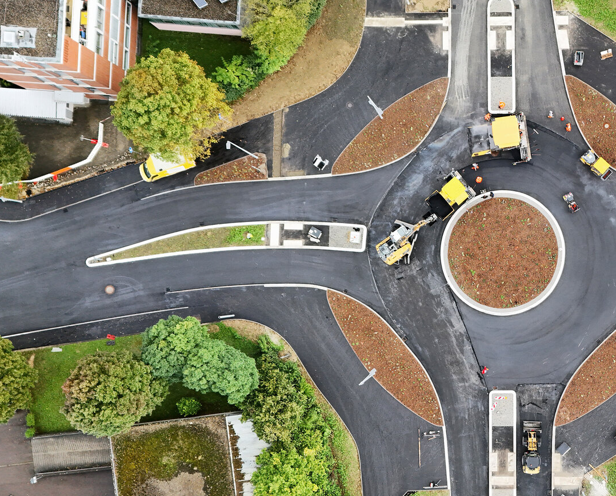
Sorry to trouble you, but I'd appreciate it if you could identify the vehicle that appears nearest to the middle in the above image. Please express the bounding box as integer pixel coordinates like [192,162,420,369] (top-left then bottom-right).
[371,211,447,276]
